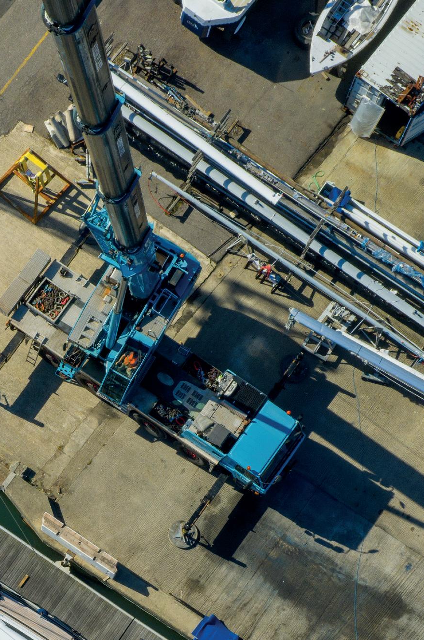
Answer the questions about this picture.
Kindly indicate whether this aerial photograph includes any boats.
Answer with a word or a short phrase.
Yes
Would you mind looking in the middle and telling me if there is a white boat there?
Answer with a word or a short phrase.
No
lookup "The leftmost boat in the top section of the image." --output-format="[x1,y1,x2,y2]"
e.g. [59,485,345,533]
[182,0,257,38]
